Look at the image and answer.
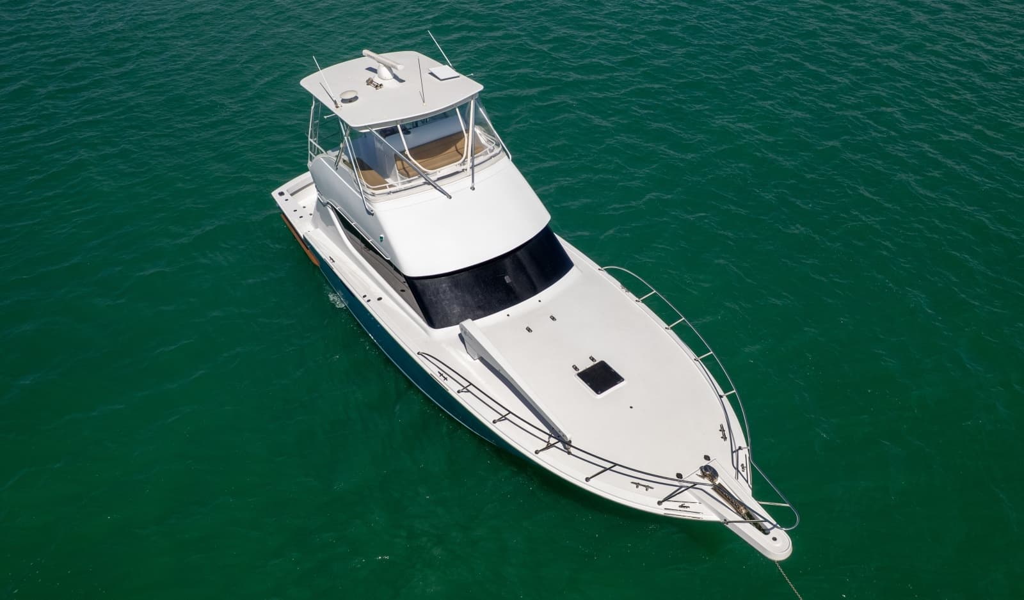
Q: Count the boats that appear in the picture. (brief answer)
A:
1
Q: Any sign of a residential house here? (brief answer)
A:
No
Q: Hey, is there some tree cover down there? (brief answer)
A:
No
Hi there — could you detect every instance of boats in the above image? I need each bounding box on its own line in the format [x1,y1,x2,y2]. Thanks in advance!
[271,29,799,560]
